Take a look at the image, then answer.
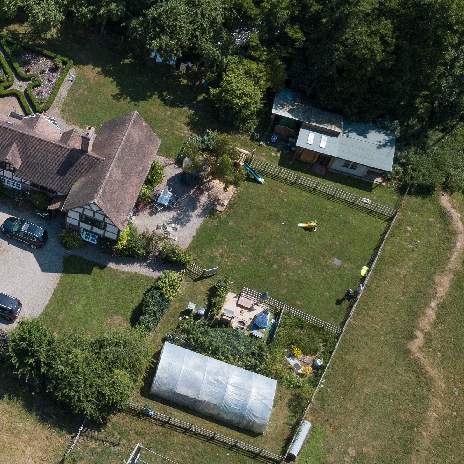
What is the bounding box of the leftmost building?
[0,109,161,248]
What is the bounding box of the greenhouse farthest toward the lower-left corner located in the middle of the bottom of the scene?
[150,340,278,434]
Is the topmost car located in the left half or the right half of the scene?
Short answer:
left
